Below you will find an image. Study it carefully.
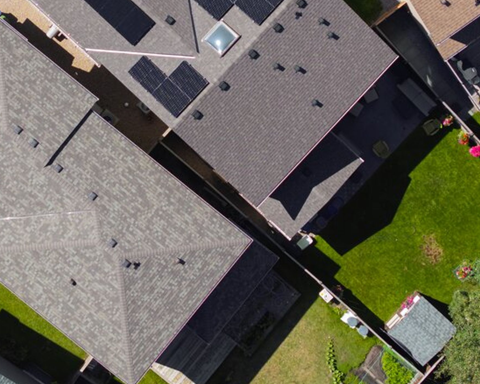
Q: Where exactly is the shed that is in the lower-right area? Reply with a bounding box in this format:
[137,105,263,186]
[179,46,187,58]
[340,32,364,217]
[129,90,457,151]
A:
[386,295,456,367]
